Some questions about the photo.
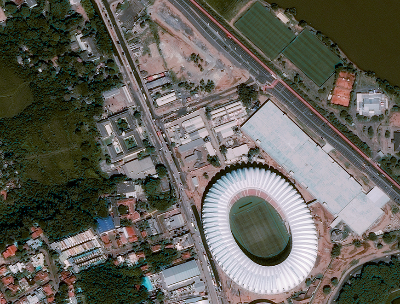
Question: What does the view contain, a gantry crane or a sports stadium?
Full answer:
I can see a sports stadium in this picture.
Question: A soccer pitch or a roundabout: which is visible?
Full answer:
The image shows a soccer pitch.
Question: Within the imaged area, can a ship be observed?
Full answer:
No, the photo shows no ship.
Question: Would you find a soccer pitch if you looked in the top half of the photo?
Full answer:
Yes, you'll find a soccer pitch in the top half of the photo.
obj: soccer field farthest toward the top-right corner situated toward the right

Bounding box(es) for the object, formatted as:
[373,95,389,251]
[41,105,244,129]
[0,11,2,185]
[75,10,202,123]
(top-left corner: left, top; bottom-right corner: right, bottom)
[280,27,343,86]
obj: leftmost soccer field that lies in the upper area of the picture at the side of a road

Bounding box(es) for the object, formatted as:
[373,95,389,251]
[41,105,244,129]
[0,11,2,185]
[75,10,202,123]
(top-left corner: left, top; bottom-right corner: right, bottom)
[233,1,296,57]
